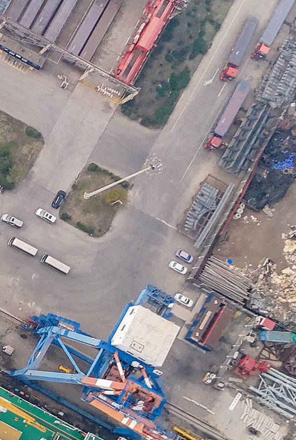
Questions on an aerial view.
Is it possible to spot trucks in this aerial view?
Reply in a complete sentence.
Yes, a truck appears in the view.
